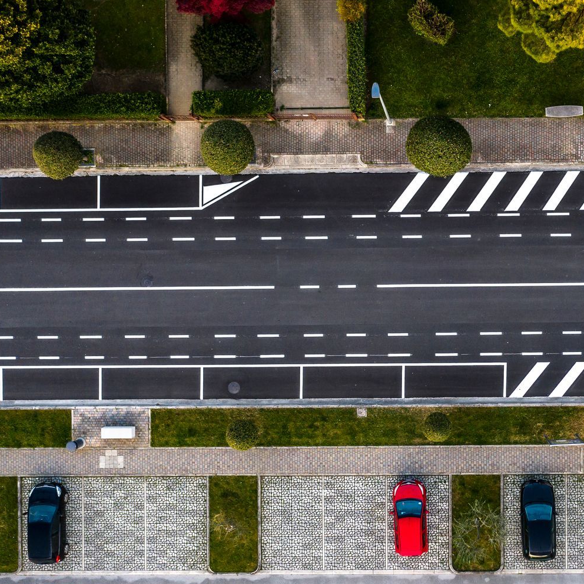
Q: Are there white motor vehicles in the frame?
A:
No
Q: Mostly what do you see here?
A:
paved ground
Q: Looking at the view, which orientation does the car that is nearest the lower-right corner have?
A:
from top to bottom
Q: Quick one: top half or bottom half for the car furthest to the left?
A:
bottom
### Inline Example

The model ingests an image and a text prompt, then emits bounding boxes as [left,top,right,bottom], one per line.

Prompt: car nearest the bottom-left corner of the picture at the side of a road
[21,480,70,565]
